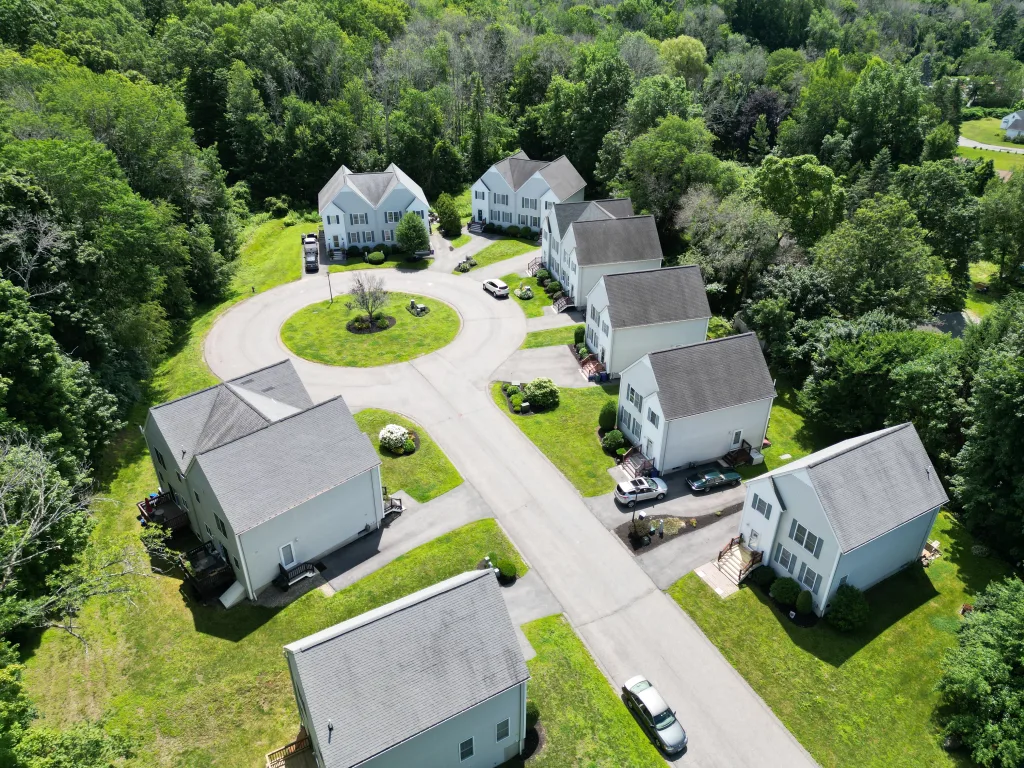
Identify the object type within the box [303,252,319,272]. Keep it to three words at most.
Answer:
car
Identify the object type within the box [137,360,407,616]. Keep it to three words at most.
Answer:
house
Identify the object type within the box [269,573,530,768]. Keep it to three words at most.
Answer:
house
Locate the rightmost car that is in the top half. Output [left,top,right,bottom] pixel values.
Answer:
[481,277,510,295]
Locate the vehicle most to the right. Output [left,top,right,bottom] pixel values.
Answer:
[686,463,746,490]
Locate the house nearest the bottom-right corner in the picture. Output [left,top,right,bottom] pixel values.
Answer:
[707,424,949,614]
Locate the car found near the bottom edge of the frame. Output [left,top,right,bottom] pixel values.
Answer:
[621,673,692,753]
